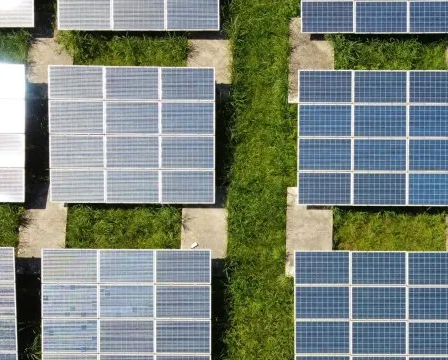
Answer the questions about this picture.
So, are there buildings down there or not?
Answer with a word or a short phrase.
No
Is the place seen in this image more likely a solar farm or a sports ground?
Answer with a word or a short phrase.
solar farm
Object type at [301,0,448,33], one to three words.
solar array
